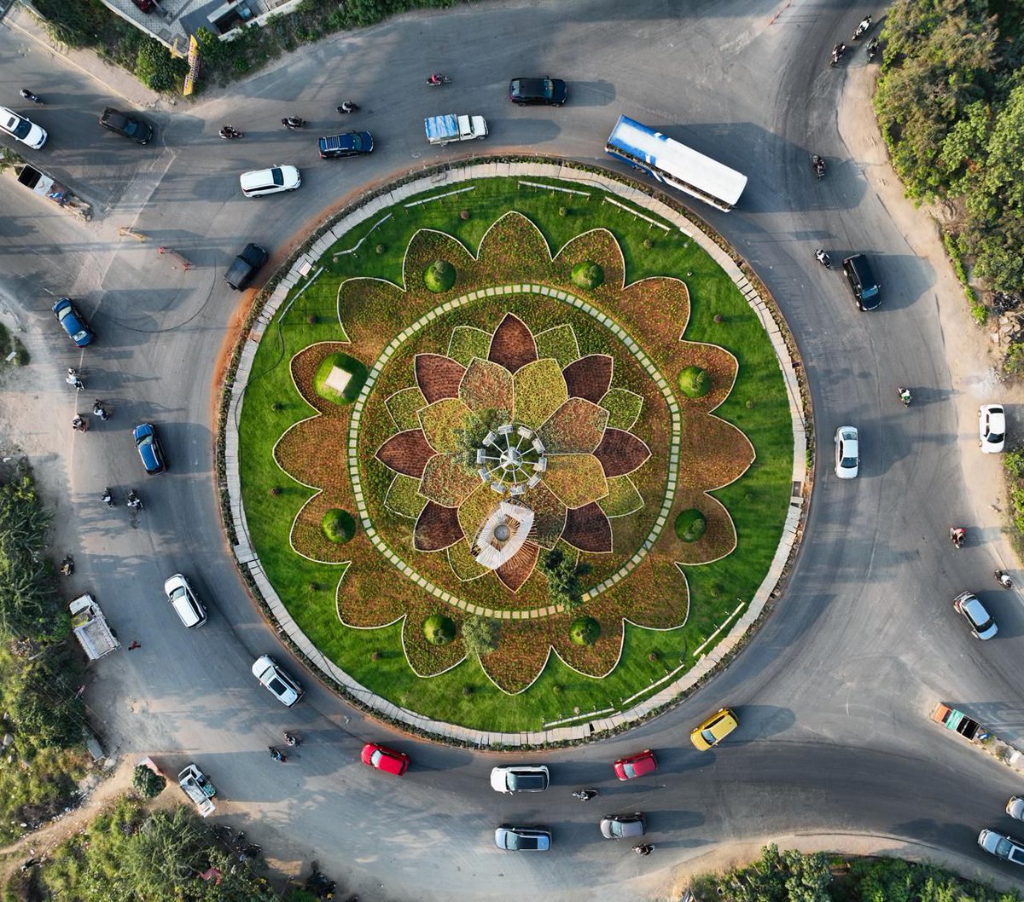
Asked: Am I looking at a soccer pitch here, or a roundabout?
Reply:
roundabout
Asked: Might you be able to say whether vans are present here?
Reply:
Yes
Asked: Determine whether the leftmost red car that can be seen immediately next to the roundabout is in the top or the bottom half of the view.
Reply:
bottom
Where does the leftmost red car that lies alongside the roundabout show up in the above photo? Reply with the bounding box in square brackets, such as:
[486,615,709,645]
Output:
[361,740,410,776]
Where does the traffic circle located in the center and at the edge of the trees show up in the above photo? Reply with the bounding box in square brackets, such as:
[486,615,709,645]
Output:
[213,150,817,756]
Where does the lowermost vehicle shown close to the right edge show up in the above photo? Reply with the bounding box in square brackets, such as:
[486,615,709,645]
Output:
[975,830,1024,876]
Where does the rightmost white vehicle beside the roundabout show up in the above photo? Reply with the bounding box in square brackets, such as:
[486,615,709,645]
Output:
[831,425,861,478]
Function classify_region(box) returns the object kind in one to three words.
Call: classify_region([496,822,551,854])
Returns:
car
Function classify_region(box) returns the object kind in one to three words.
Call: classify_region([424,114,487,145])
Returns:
truck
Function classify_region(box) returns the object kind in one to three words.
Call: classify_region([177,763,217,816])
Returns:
van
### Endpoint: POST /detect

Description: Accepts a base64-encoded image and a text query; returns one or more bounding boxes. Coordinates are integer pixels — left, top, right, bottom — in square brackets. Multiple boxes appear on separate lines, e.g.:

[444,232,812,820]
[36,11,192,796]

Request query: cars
[975,830,1024,876]
[361,740,410,776]
[97,104,157,147]
[240,164,301,197]
[842,254,882,310]
[166,573,207,629]
[0,102,53,148]
[613,748,658,782]
[251,655,304,706]
[831,425,861,478]
[496,822,551,854]
[510,76,567,108]
[599,811,646,841]
[55,298,96,349]
[132,423,169,476]
[975,403,1006,453]
[491,764,548,795]
[689,709,739,748]
[318,128,374,160]
[1002,798,1024,829]
[222,243,271,292]
[952,590,992,639]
